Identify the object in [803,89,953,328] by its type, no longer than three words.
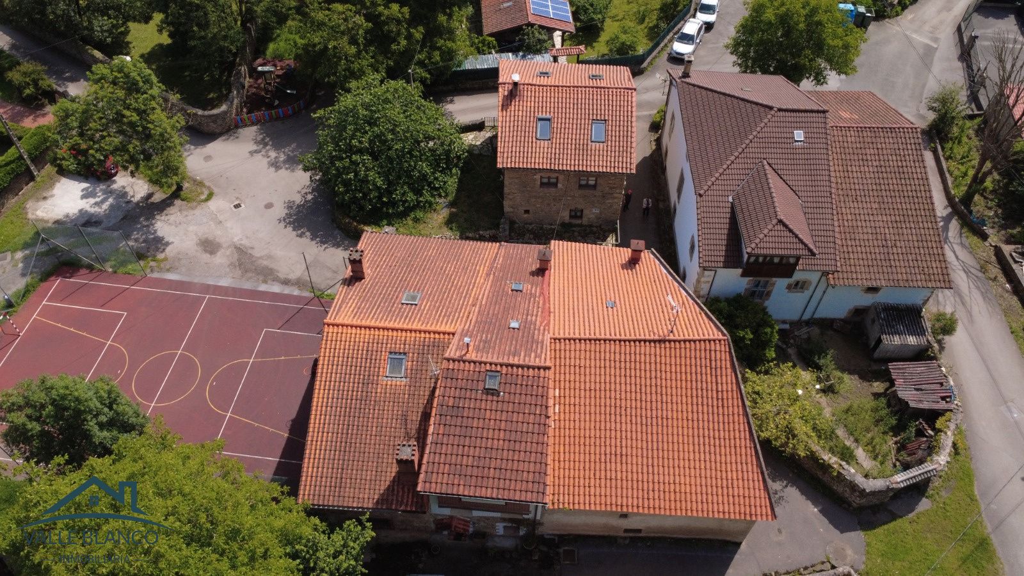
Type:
house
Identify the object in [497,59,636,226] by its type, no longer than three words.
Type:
house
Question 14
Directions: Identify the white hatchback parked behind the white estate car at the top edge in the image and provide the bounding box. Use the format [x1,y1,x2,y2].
[696,0,725,28]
